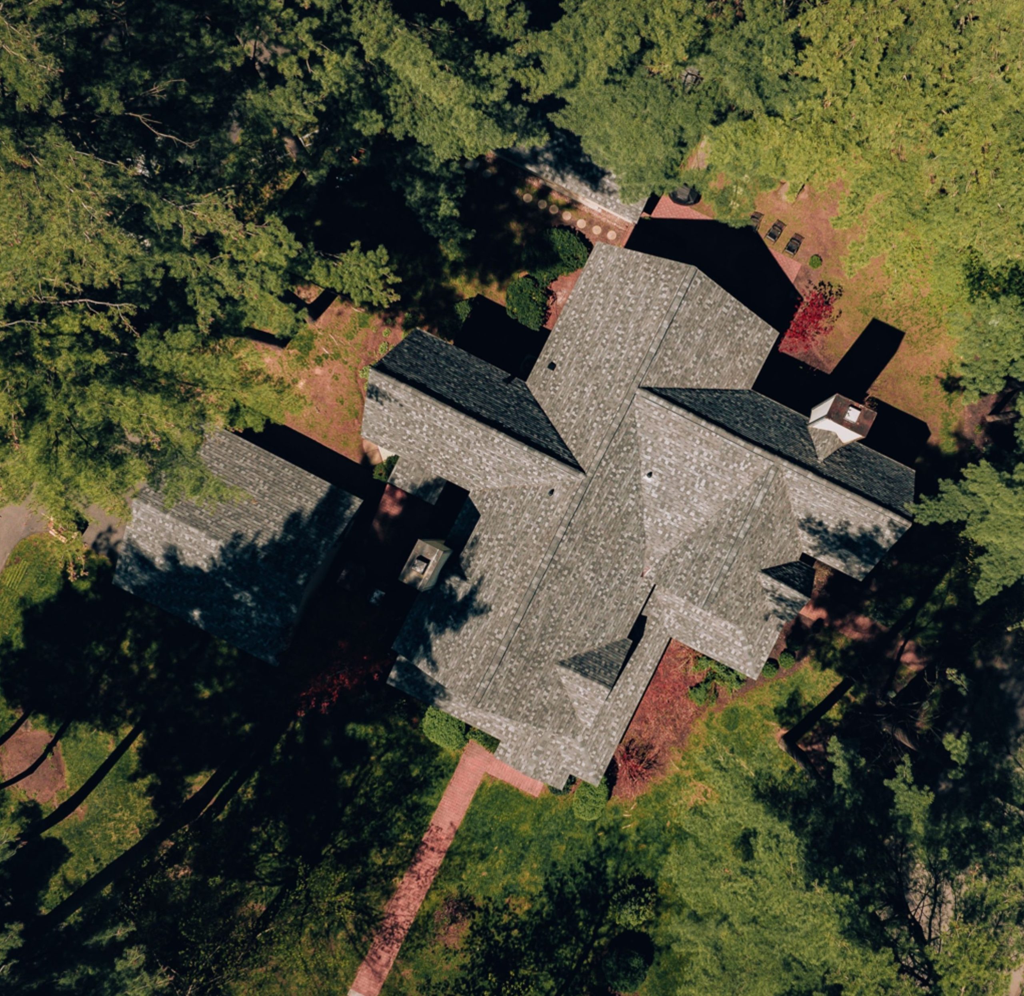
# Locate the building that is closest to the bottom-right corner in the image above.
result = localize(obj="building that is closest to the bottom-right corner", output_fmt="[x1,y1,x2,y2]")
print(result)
[361,244,916,791]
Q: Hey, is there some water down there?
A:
No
